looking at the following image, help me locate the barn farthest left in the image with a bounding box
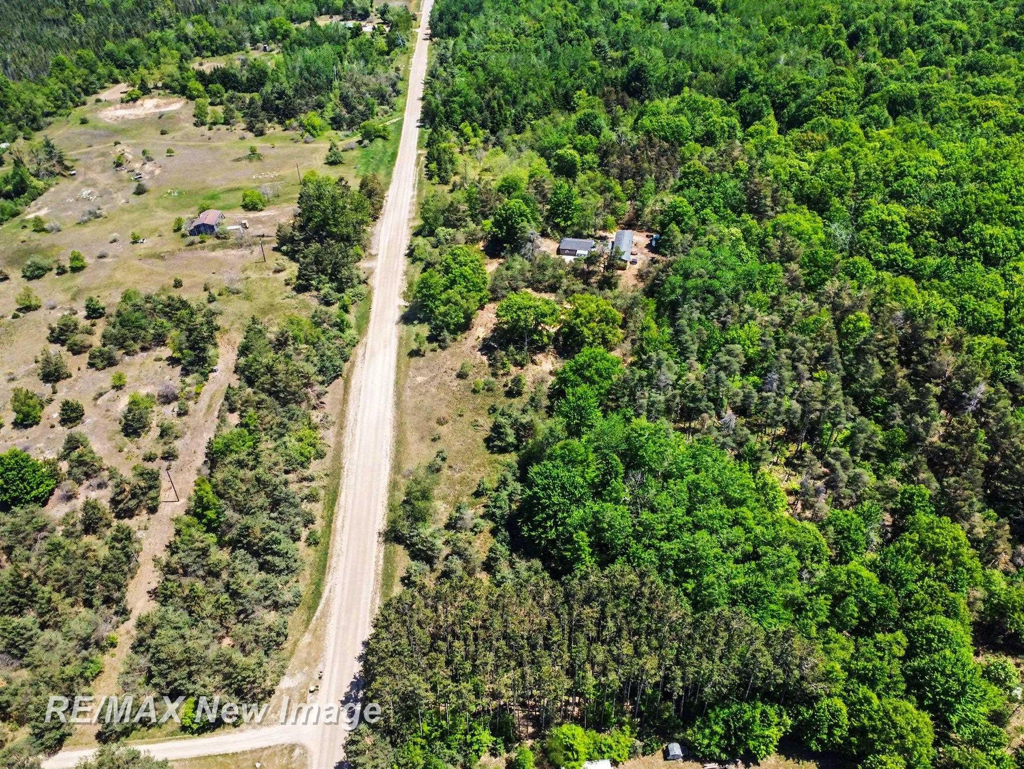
[184,211,224,239]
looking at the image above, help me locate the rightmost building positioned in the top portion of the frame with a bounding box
[605,232,634,272]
